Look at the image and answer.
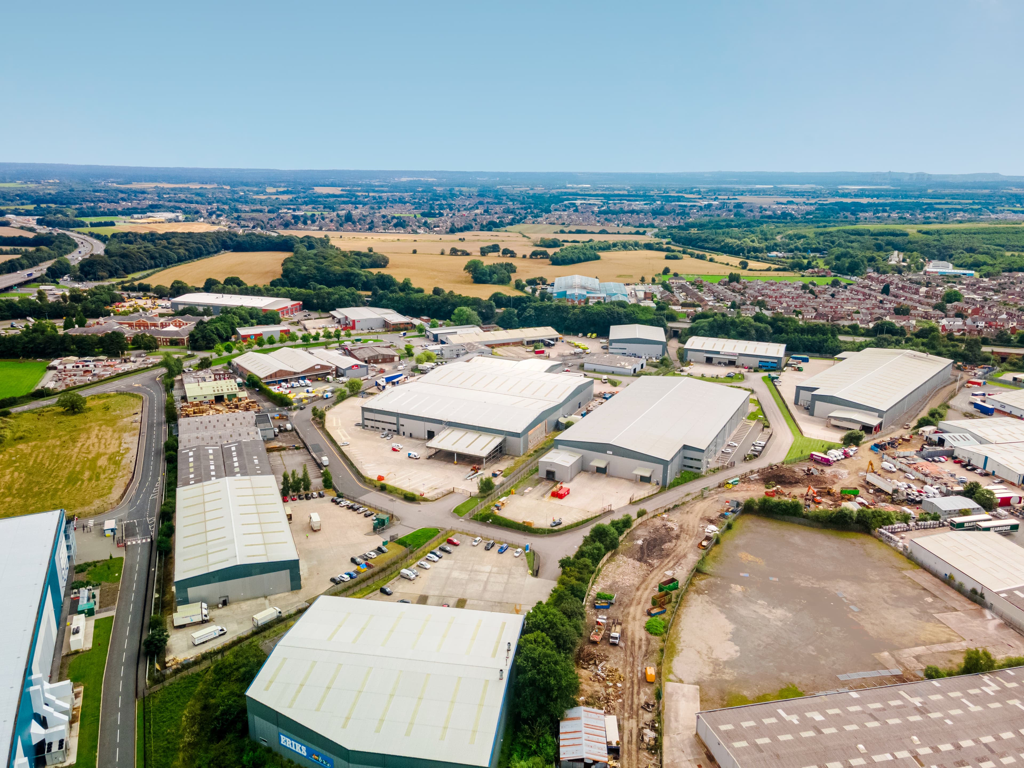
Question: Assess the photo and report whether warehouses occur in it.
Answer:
Yes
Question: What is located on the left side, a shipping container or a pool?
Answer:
shipping container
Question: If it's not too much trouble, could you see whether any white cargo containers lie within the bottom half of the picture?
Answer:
Yes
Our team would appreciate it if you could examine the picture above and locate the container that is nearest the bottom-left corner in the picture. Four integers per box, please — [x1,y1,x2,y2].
[64,610,89,650]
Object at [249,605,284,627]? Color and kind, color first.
white truck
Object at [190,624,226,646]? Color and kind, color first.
white vehicle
